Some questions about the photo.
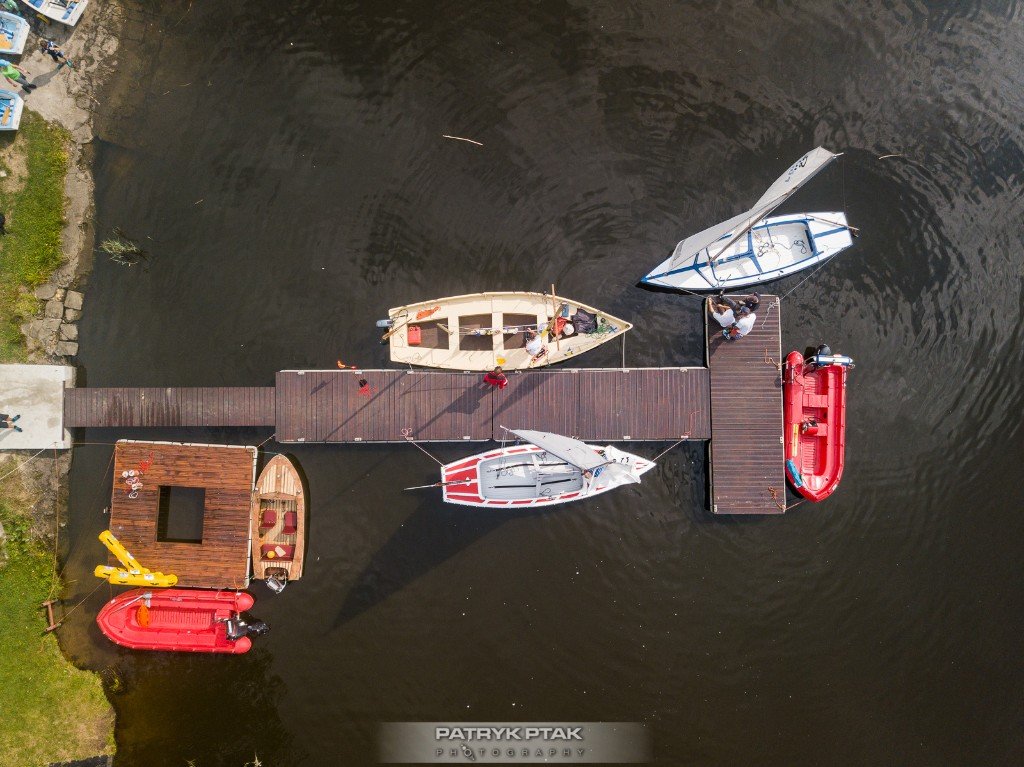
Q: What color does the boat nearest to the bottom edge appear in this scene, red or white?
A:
red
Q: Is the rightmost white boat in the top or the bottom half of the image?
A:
top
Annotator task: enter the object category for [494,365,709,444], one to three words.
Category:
pier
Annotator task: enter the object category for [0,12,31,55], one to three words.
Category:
boat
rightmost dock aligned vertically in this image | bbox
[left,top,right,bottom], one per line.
[704,293,787,516]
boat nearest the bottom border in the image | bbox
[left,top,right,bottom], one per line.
[97,586,273,651]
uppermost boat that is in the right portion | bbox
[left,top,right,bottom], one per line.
[639,146,859,293]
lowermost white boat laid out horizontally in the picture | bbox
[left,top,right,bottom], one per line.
[404,427,657,508]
